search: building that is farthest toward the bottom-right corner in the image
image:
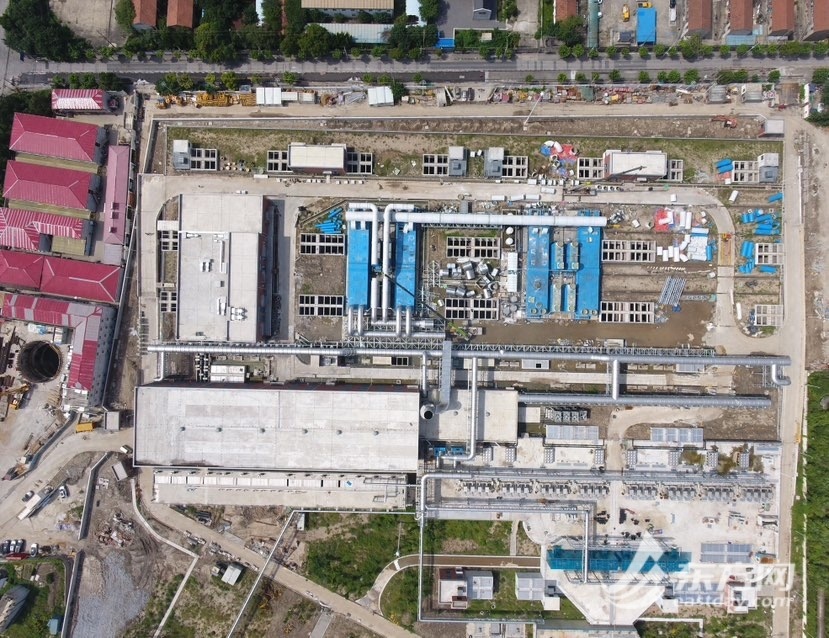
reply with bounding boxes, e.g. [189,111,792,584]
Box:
[718,571,759,613]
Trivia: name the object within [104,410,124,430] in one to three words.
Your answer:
shed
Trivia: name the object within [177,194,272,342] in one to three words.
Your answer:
building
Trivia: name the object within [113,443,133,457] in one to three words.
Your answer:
vehicle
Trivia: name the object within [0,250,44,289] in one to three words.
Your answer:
house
